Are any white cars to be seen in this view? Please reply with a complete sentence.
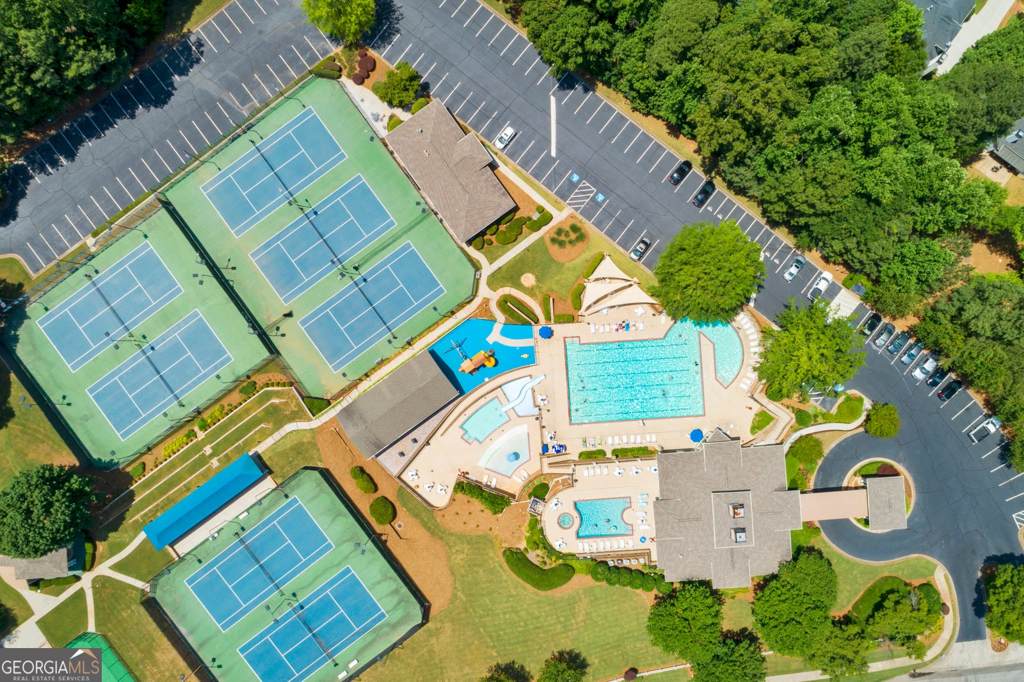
Yes, there is a white car in the image.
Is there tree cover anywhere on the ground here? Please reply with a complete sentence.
Yes, tree cover can be seen from above here.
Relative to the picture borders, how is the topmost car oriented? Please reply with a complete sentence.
The topmost car runs at an angle in the image.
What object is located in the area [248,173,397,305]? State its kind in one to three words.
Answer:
tennis court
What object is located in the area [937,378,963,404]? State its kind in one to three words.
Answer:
car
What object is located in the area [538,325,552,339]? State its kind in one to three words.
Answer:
umbrella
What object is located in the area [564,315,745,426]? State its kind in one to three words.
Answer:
swimming pool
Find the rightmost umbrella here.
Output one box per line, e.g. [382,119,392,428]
[689,428,704,443]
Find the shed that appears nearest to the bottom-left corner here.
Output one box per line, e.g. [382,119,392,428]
[0,541,75,576]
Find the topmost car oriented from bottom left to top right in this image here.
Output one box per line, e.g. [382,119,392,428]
[494,124,518,151]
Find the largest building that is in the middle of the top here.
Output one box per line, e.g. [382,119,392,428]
[384,98,516,243]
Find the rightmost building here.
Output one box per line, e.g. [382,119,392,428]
[982,121,1024,186]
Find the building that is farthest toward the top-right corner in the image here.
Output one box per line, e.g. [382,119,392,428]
[916,0,976,70]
